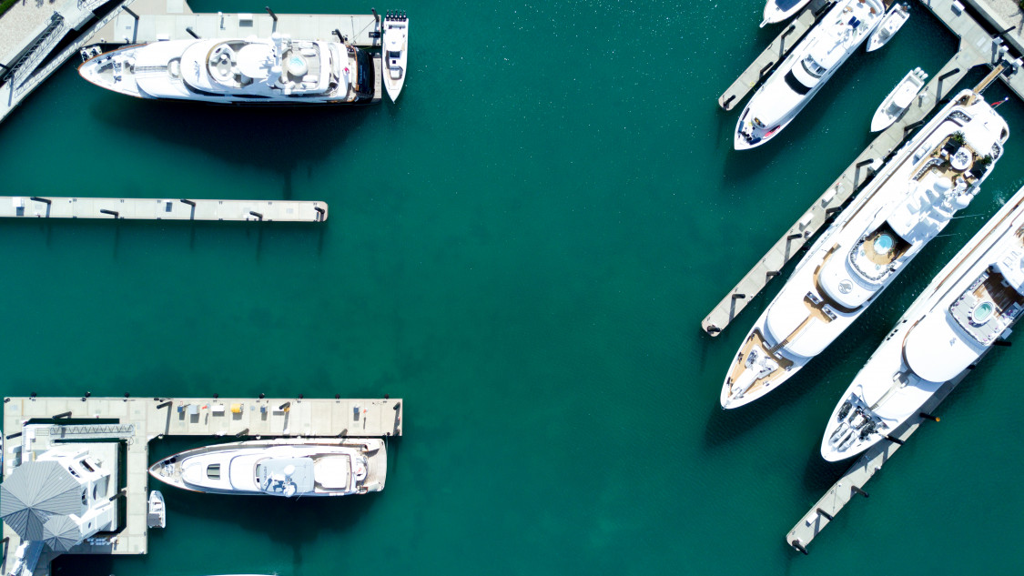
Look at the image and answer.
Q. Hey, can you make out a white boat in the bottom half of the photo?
Yes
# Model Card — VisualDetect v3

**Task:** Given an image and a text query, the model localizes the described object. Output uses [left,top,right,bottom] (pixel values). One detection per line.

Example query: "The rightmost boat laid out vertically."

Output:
[380,12,407,98]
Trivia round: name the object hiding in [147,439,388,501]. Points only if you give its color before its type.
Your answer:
white boat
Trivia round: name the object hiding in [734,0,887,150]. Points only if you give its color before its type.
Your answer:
white boat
